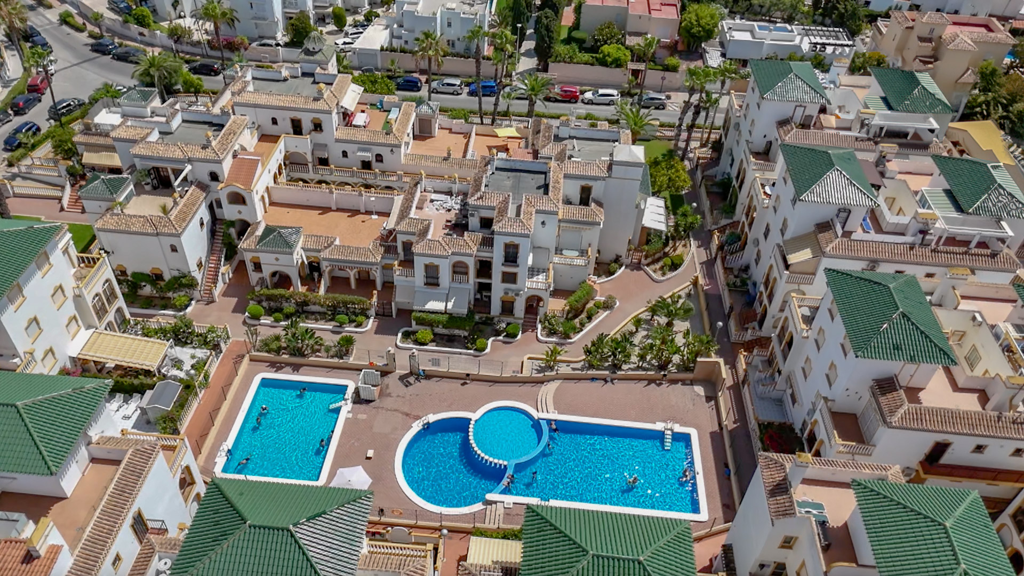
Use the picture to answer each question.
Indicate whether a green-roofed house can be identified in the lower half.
Yes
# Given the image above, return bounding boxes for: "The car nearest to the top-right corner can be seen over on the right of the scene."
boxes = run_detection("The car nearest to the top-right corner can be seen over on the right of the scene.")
[633,91,670,110]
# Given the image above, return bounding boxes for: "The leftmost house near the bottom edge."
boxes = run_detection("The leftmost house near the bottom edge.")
[0,368,206,576]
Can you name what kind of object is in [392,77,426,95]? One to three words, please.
car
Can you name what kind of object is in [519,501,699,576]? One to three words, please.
house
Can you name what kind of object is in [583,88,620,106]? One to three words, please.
car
